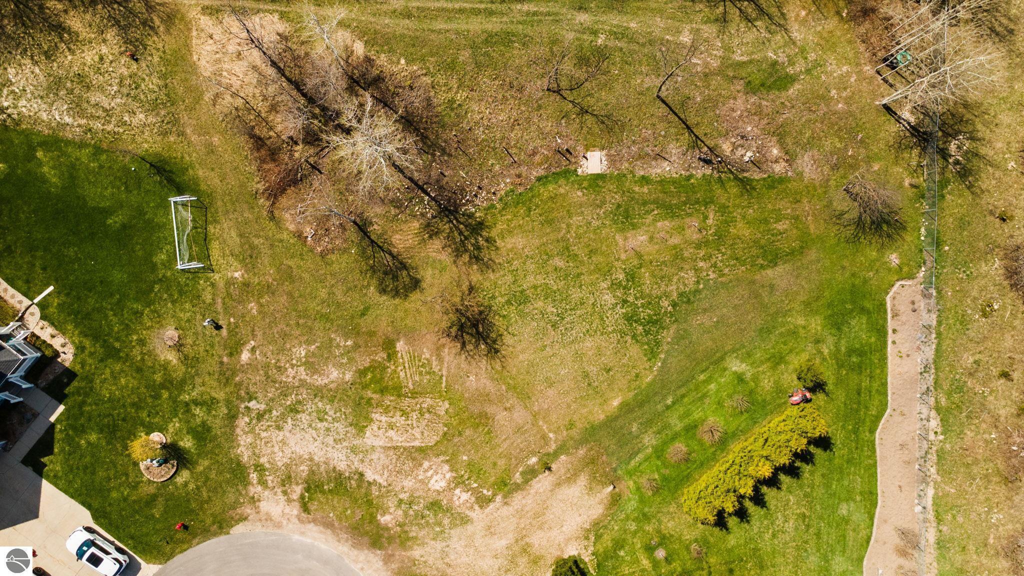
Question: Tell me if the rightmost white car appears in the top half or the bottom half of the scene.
bottom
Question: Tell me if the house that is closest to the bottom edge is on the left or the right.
left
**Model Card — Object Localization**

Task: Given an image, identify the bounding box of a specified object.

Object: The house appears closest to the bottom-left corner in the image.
[0,321,44,403]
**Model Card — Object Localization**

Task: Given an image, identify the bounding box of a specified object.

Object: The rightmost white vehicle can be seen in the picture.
[64,524,131,576]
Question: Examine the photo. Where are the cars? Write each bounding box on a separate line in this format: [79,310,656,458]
[64,524,131,576]
[16,567,45,576]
